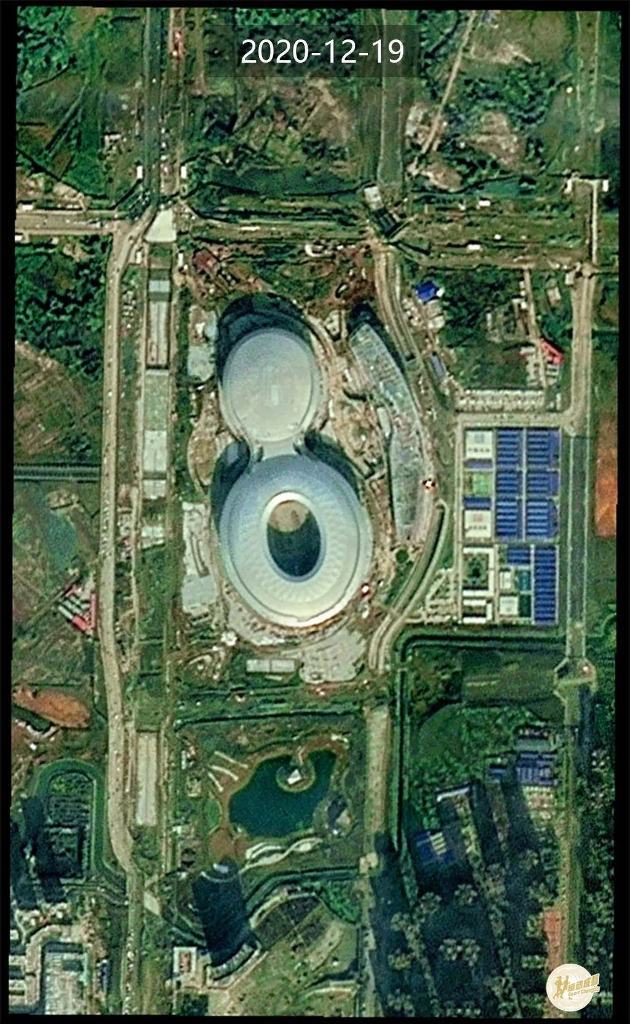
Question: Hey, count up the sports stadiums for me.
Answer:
2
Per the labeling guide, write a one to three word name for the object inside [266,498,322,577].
sports field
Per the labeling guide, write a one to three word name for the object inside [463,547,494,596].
house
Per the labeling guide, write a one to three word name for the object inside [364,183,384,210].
shed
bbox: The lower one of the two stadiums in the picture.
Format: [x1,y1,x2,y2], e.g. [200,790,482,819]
[219,453,374,627]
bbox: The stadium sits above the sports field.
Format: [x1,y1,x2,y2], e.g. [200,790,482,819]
[220,307,324,442]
